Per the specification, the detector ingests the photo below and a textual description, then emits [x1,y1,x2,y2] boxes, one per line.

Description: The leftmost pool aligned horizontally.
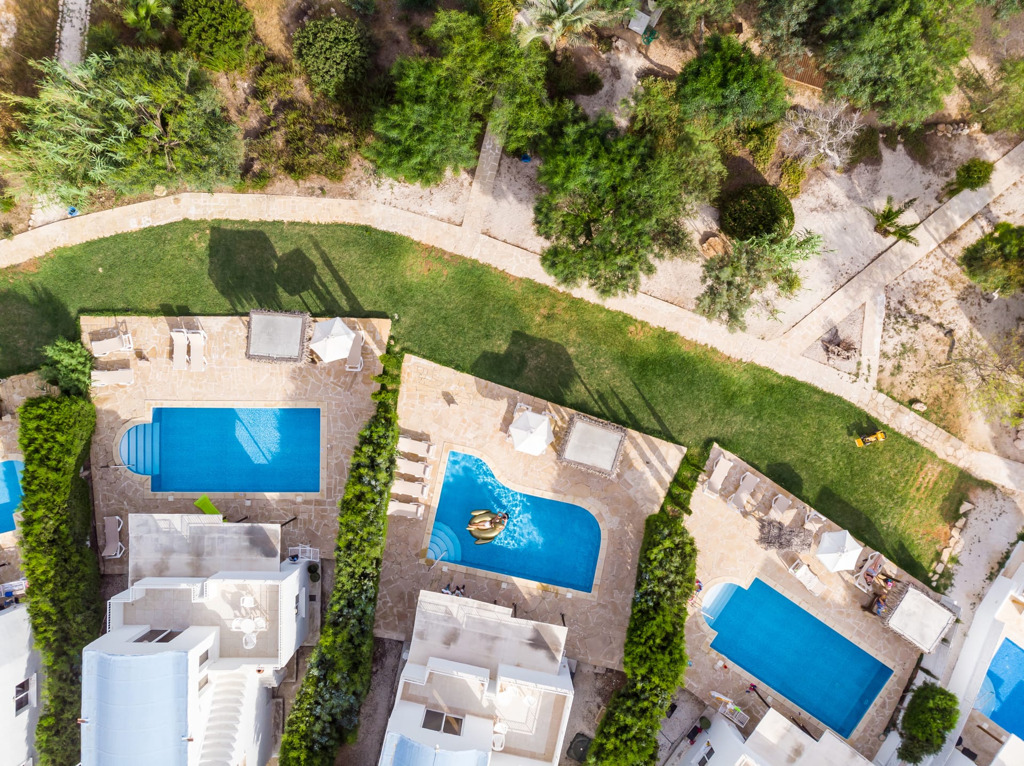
[105,401,332,501]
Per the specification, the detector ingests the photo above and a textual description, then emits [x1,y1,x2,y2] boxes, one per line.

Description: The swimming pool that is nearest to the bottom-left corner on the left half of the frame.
[0,453,31,539]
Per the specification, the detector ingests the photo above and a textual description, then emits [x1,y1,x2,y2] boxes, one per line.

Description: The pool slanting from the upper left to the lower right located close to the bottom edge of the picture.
[695,568,903,749]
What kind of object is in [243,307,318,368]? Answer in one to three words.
gazebo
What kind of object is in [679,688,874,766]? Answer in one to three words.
house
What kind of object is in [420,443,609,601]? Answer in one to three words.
swimming pool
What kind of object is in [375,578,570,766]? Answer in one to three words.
house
